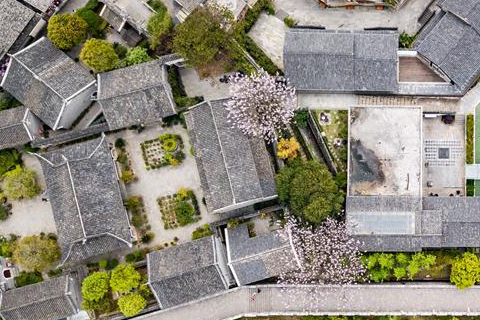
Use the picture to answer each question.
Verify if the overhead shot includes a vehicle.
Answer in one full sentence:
No, the picture doesn't show any vehicle.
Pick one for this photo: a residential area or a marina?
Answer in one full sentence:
This image shows a residential area.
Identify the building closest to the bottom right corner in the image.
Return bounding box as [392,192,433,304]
[425,197,480,247]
